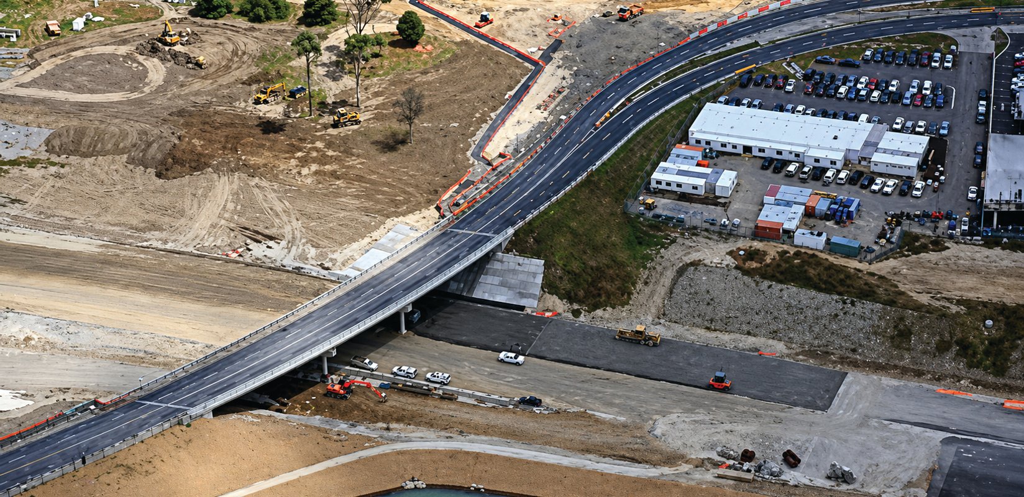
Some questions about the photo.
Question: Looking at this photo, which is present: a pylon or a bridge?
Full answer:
It is a bridge that can be seen here.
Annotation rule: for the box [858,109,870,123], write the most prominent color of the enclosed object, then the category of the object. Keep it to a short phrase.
white vehicle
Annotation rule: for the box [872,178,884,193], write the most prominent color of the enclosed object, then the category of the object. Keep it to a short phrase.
white vehicle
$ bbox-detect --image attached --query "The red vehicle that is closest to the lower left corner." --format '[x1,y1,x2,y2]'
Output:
[325,378,377,406]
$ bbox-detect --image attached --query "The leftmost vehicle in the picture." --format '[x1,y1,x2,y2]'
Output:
[45,19,59,37]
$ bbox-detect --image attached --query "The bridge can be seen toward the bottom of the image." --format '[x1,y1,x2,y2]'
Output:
[130,221,527,422]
